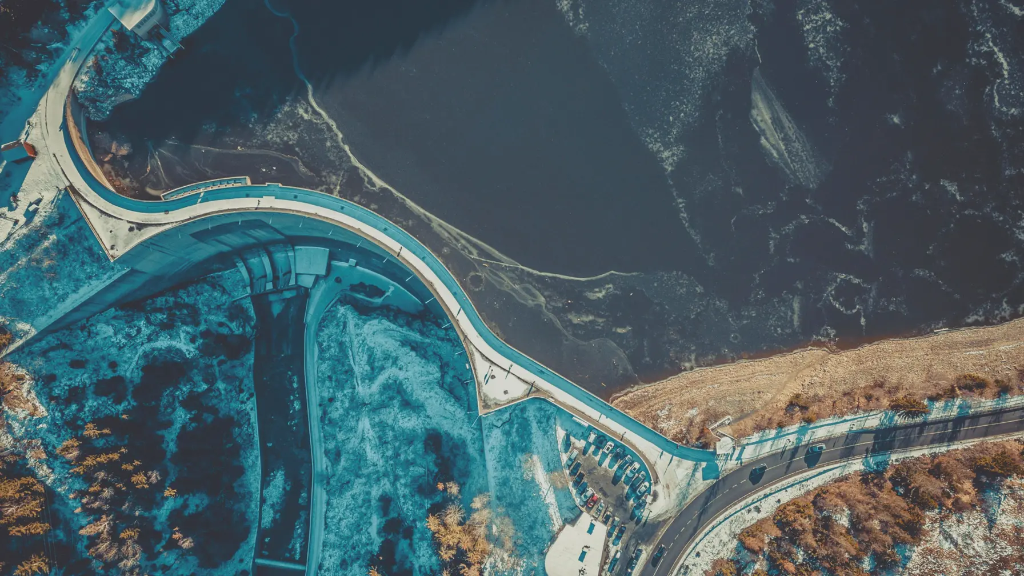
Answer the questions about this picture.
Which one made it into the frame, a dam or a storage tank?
dam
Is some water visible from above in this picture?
Yes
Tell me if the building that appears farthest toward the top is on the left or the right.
left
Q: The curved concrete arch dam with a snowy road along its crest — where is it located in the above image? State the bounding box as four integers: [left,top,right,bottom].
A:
[61,15,717,495]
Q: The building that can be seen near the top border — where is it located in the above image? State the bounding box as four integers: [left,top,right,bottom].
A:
[108,0,171,40]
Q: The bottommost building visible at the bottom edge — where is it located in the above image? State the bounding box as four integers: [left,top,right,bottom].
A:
[545,510,607,576]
